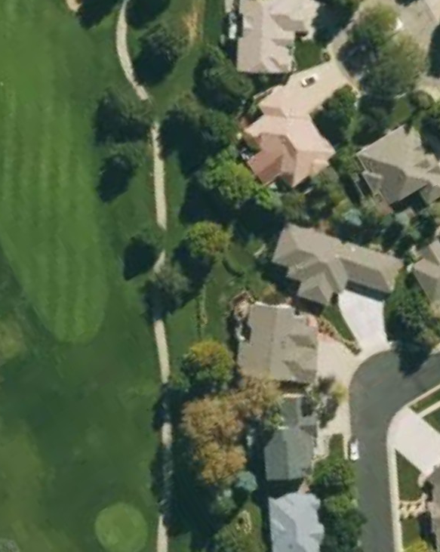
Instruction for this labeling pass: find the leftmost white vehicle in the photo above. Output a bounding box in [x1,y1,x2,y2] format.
[300,73,321,87]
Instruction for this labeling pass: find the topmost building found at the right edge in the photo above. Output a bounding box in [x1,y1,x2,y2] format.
[360,123,440,206]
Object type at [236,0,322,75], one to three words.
house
